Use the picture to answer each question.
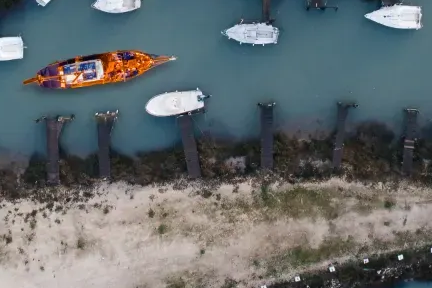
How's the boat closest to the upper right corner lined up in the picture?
horizontally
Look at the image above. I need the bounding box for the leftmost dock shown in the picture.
[34,112,77,184]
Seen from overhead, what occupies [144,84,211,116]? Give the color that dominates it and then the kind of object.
white boat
